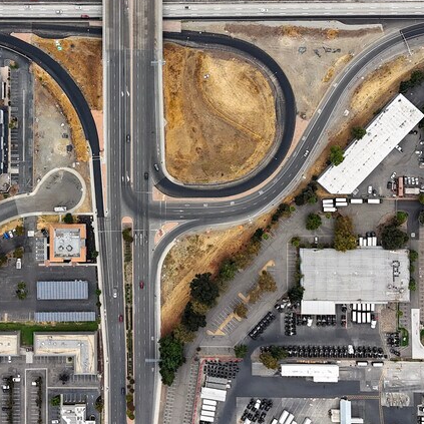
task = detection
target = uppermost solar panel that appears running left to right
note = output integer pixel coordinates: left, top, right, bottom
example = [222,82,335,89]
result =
[37,281,88,300]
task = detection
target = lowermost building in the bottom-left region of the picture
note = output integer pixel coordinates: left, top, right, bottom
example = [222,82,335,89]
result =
[61,401,95,424]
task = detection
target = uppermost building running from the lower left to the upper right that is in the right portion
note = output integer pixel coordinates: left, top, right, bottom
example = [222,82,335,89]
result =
[314,93,422,194]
